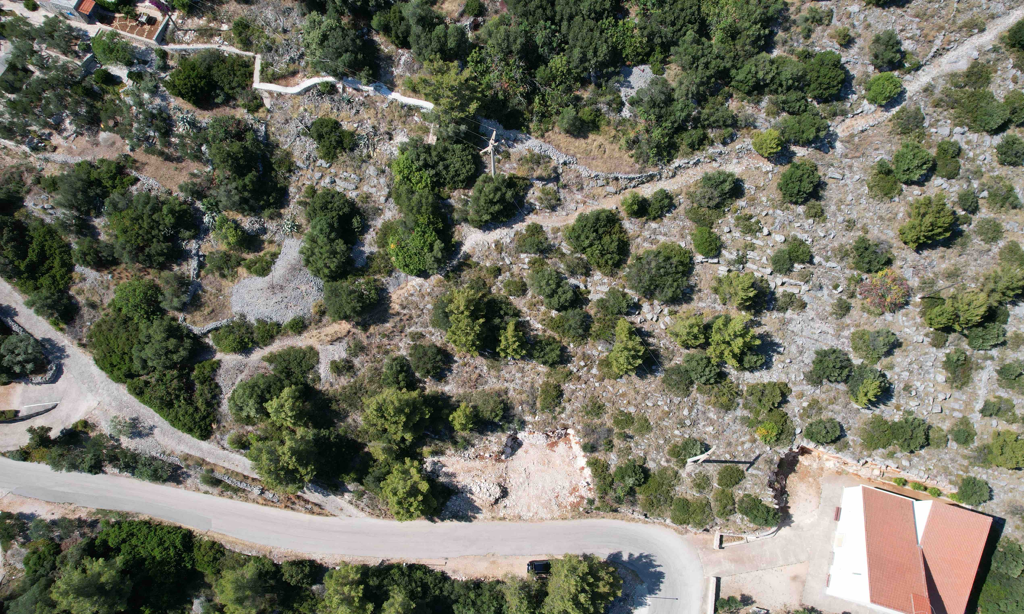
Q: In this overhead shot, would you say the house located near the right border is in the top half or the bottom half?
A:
bottom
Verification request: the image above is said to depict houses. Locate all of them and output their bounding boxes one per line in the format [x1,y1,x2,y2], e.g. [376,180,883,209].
[22,0,94,24]
[830,484,994,614]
